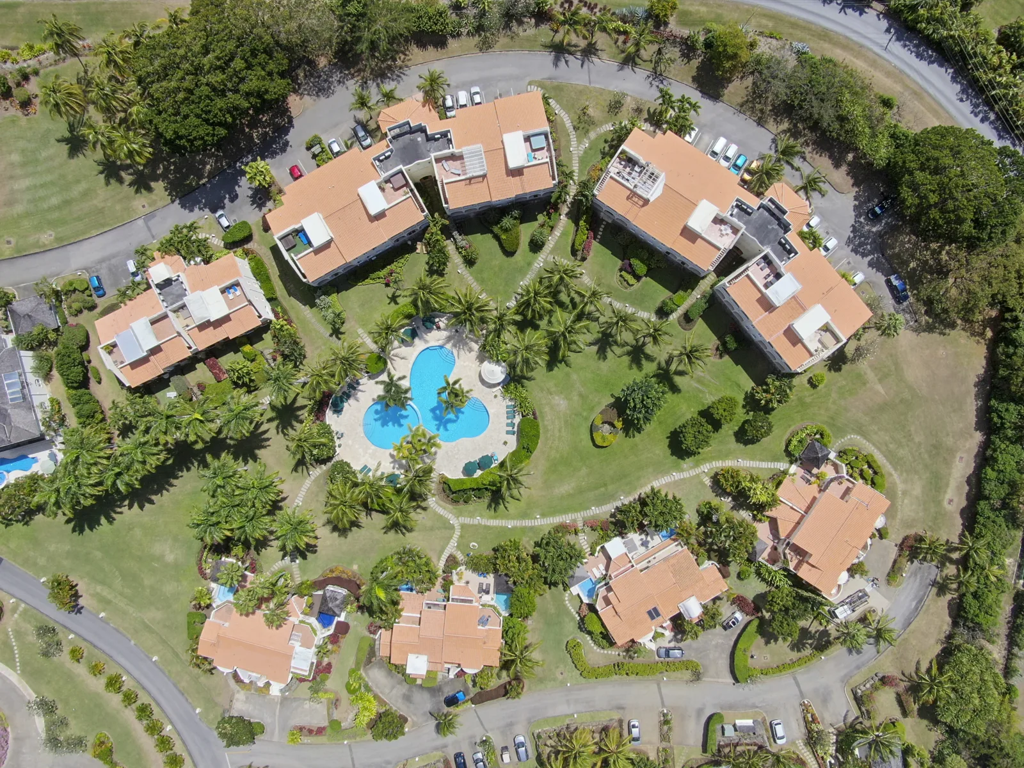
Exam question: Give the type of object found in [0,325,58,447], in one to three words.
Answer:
house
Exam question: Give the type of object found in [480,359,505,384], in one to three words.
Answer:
gazebo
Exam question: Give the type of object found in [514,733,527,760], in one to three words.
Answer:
vehicle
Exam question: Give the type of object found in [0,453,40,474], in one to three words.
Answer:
swimming pool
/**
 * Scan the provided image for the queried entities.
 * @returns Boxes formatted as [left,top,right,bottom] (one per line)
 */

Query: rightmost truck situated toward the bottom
[828,585,875,620]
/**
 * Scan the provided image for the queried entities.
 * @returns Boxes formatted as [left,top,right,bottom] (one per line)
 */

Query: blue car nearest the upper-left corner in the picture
[89,275,108,298]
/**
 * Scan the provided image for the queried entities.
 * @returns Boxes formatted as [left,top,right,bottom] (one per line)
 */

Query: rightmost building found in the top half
[591,126,873,374]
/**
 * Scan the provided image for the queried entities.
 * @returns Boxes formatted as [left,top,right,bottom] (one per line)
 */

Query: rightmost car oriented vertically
[770,717,785,744]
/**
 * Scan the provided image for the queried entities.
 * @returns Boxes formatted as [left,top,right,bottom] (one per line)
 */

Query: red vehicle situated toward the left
[286,161,305,181]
